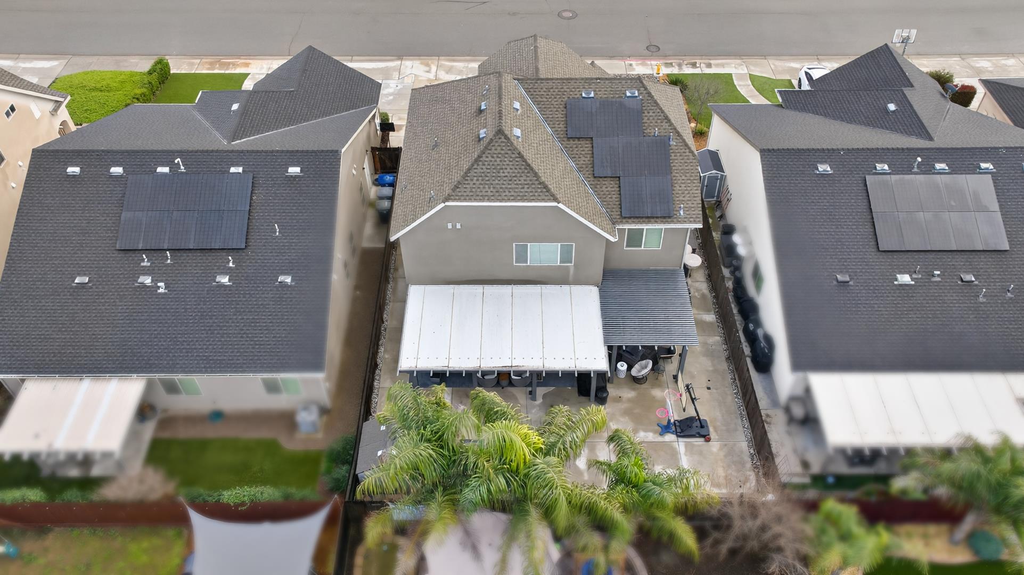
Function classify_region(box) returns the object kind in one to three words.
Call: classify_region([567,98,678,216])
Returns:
solar array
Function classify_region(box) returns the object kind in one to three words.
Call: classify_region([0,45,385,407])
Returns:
house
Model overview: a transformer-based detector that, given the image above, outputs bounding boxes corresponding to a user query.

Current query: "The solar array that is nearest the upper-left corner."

[112,173,252,248]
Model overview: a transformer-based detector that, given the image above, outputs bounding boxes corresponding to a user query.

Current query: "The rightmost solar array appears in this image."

[867,174,1010,250]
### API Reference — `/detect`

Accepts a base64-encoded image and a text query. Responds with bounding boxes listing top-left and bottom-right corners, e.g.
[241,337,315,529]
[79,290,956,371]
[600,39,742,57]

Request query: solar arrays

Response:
[112,173,252,248]
[867,174,1010,250]
[567,98,678,216]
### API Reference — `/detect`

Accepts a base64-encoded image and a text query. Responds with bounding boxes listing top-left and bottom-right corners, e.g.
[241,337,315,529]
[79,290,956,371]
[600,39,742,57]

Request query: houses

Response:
[0,45,385,407]
[386,34,703,289]
[707,45,1024,407]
